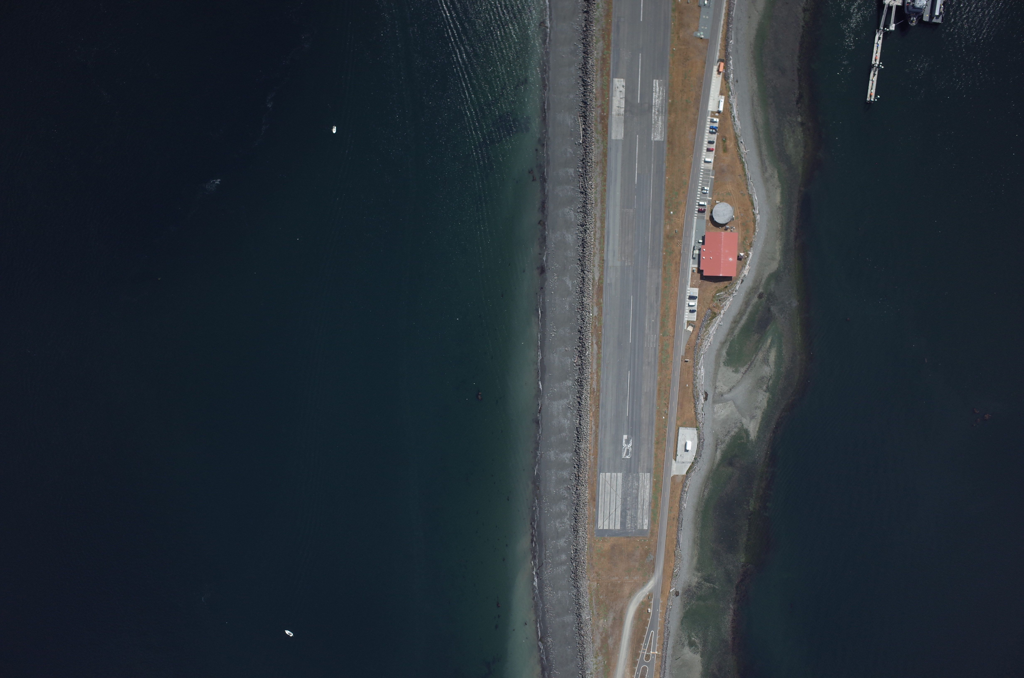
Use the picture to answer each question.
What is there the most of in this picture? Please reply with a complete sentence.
The scene is dominated by water.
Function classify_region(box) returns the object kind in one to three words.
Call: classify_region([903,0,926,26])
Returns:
ship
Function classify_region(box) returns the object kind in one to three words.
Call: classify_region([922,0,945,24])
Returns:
ship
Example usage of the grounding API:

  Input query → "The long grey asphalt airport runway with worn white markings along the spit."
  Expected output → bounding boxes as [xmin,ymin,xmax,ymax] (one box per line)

[595,0,672,537]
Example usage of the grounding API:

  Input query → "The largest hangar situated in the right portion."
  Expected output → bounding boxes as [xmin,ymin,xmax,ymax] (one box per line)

[699,232,738,276]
